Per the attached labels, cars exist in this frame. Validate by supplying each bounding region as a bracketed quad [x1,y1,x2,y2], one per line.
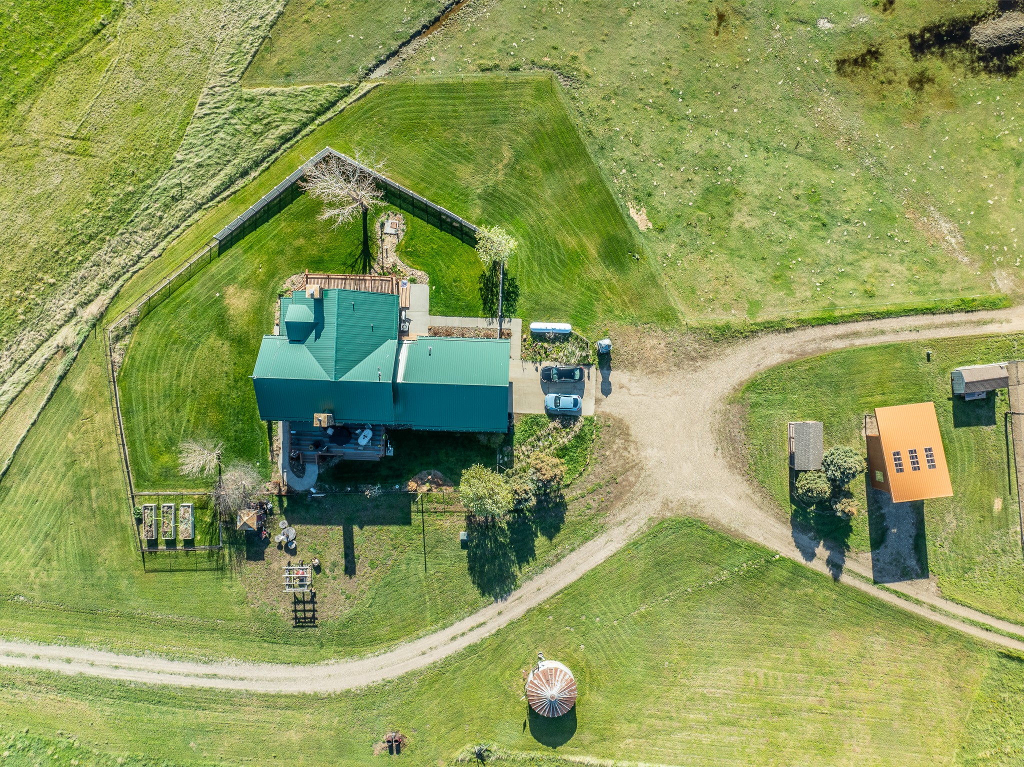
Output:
[545,394,581,412]
[541,365,584,384]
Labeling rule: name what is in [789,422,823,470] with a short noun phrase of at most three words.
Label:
shed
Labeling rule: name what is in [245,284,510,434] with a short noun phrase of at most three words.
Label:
house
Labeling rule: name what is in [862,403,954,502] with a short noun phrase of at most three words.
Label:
building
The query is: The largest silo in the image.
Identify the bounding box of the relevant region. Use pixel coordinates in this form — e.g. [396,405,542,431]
[526,661,578,718]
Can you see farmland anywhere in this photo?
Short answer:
Yes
